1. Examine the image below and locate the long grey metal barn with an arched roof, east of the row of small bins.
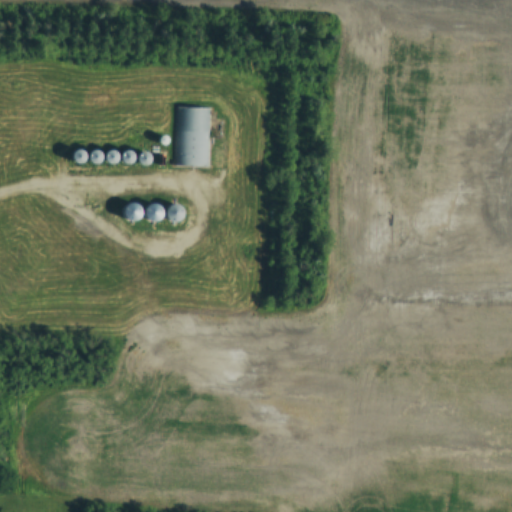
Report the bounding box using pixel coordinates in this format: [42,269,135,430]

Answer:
[177,106,212,168]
